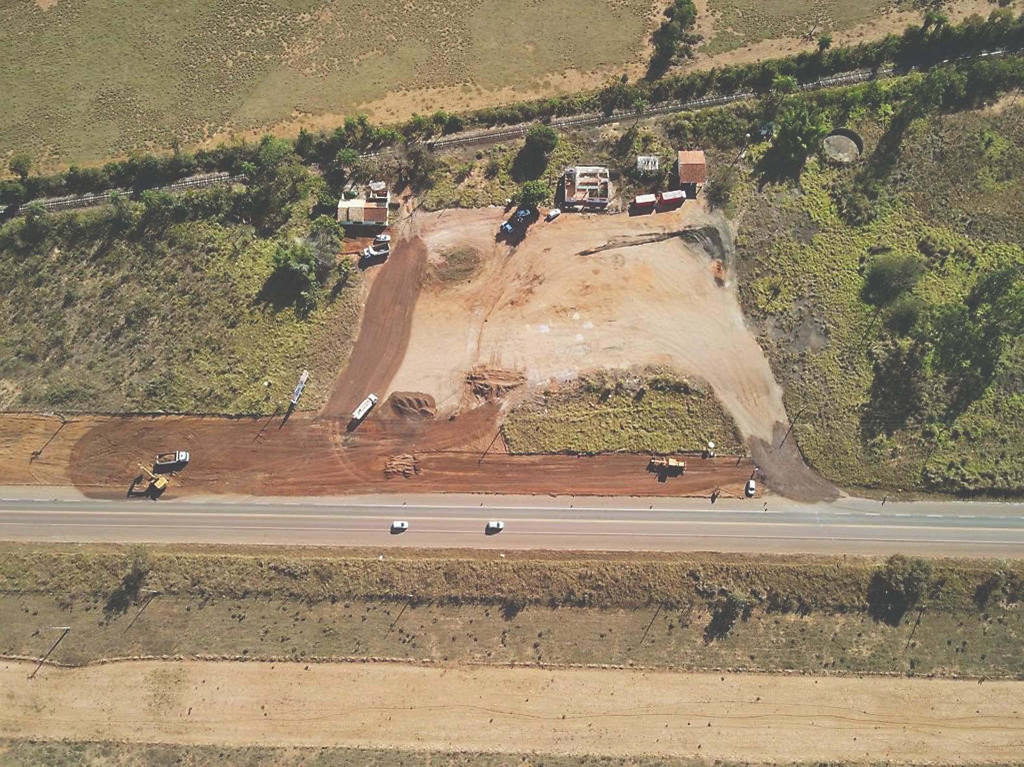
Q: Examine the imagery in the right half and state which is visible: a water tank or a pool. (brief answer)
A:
water tank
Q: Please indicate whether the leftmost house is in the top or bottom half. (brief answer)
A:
top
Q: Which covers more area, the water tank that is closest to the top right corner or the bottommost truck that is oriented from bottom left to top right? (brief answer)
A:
the water tank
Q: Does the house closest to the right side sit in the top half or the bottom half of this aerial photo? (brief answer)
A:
top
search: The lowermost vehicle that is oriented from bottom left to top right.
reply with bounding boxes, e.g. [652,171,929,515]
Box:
[350,393,379,424]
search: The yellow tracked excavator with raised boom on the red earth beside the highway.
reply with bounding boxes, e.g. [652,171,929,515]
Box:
[139,461,173,494]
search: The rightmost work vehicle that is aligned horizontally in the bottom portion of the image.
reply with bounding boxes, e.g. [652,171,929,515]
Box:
[650,459,685,471]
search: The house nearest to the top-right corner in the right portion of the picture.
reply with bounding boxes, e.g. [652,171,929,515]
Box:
[676,151,705,187]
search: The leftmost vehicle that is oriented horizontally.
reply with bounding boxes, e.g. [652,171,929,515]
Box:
[156,452,193,464]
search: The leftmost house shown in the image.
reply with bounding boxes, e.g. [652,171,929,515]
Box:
[338,192,390,227]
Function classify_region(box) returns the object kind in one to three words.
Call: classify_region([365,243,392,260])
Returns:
vehicle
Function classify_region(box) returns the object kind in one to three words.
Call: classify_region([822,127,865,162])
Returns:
water tank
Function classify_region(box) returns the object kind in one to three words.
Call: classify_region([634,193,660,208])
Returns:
vehicle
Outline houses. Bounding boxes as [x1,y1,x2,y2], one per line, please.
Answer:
[676,151,705,187]
[565,167,609,206]
[338,192,390,227]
